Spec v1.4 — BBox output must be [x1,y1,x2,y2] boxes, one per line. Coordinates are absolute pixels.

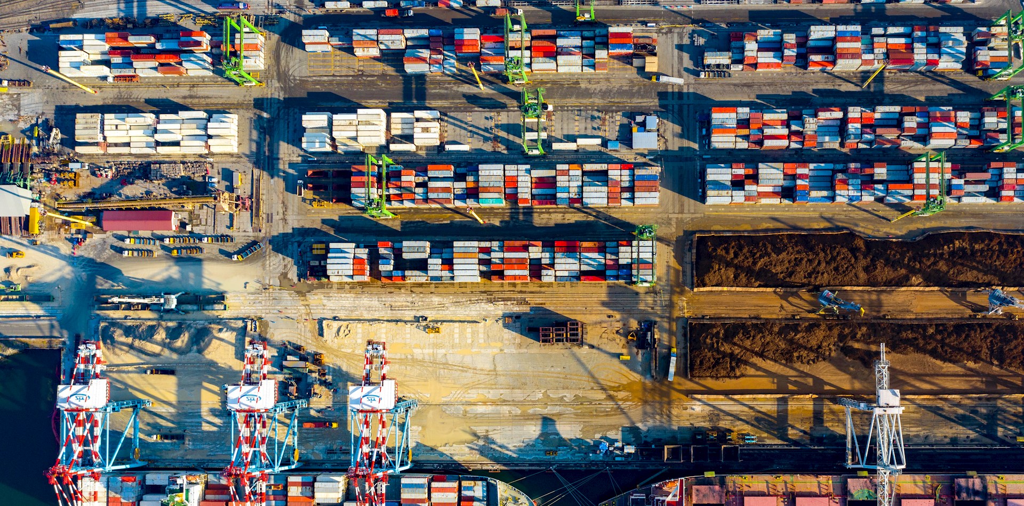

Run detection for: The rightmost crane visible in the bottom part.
[984,291,1024,320]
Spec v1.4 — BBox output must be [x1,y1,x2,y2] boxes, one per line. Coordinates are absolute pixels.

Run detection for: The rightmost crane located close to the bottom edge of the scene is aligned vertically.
[836,344,907,506]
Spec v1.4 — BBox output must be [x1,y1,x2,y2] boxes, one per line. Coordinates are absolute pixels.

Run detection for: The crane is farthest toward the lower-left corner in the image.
[52,343,154,506]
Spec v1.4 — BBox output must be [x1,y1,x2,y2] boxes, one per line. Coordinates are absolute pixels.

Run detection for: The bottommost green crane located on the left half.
[364,154,400,216]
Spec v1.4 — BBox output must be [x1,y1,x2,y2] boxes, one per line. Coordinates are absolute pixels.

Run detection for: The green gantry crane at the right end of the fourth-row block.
[630,223,660,287]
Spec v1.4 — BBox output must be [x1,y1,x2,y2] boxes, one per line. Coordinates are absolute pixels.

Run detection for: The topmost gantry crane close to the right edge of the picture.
[985,8,1024,79]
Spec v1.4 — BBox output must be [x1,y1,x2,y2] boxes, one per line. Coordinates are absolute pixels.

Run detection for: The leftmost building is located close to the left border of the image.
[0,184,38,218]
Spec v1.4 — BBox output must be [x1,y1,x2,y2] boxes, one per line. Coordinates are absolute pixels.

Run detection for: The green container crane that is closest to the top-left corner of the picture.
[223,15,264,81]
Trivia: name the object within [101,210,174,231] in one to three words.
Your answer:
shed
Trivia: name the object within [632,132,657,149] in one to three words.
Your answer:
shed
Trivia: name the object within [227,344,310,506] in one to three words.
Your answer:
container crane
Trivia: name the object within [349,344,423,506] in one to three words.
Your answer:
container crane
